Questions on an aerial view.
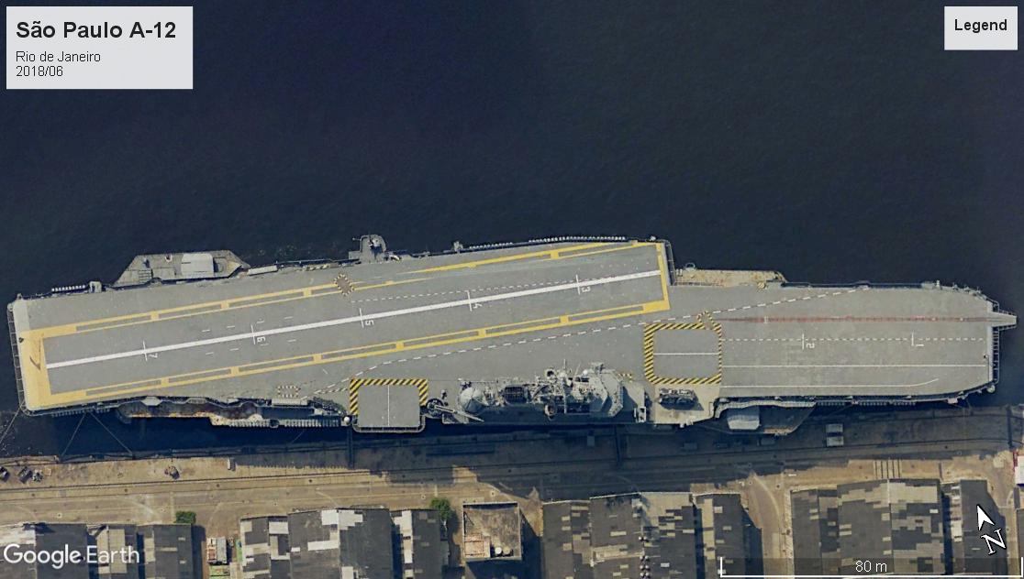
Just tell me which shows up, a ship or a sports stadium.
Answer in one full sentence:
Of the two, only a ship appears.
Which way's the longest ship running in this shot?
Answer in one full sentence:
In this picture, the longest ship lies horizontally.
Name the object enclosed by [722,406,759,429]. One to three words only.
boat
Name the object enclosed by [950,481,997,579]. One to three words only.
building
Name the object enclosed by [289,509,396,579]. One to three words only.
building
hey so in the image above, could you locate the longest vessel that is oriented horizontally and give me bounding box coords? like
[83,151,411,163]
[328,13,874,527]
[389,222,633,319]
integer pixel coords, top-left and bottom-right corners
[7,231,1017,436]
